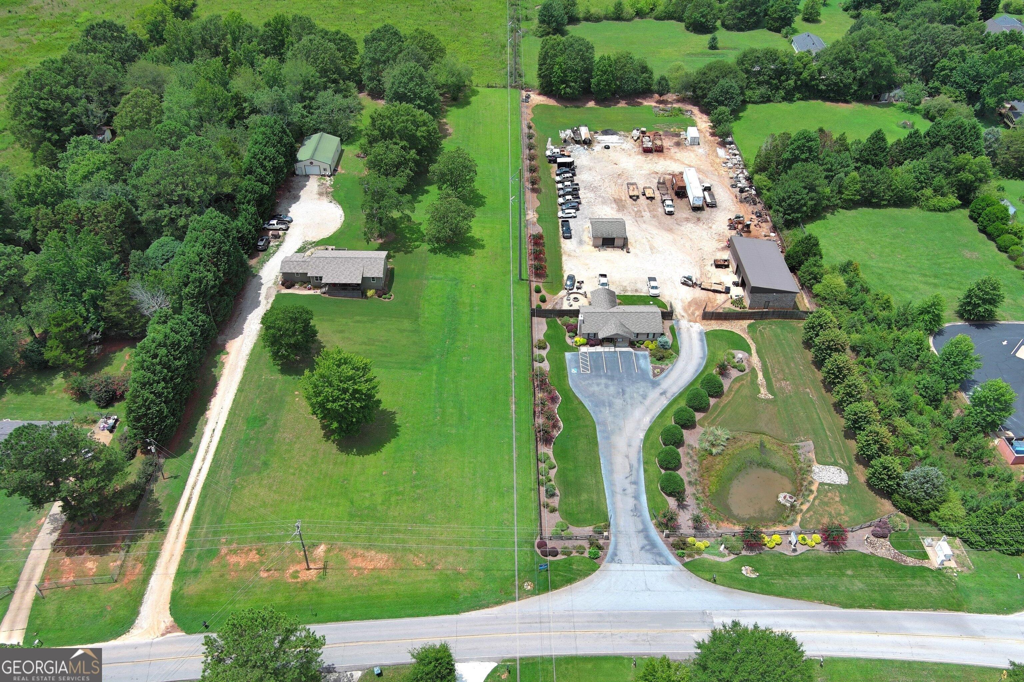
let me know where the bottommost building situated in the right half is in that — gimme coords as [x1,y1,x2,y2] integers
[577,285,663,347]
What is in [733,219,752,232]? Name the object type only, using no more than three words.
vehicle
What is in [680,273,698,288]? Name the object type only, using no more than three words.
work vehicle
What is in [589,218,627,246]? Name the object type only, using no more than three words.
shed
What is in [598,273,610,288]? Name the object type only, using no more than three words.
vehicle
